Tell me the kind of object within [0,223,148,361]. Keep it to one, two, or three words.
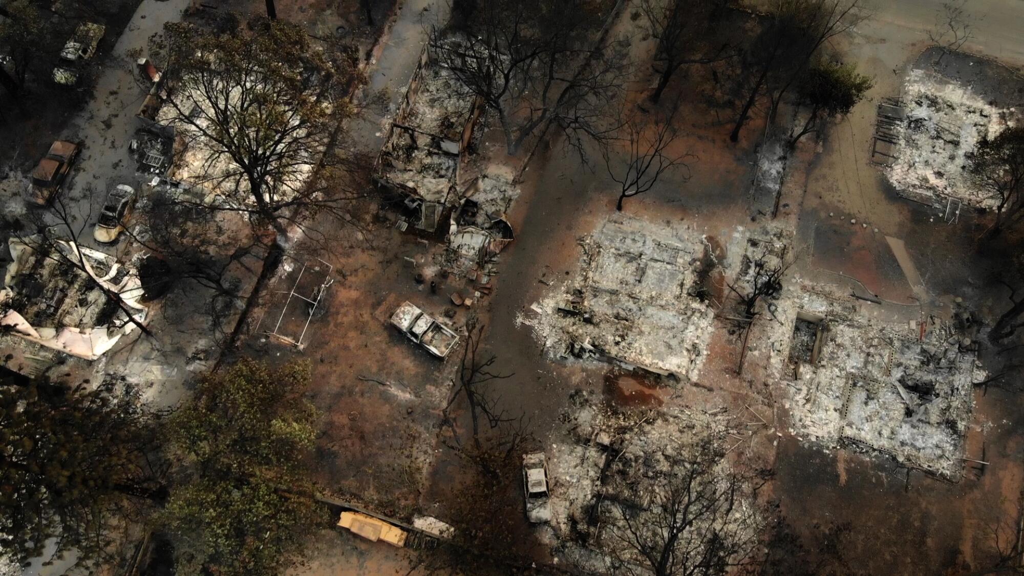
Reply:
house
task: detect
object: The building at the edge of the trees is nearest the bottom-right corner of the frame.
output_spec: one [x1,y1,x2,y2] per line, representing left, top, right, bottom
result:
[756,270,997,493]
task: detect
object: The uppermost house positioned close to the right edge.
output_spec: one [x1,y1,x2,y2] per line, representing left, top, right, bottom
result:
[868,62,1024,207]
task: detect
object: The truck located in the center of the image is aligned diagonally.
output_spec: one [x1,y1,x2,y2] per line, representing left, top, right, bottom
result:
[392,304,459,358]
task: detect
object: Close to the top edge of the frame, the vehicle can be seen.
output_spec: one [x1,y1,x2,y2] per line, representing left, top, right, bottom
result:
[67,23,107,62]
